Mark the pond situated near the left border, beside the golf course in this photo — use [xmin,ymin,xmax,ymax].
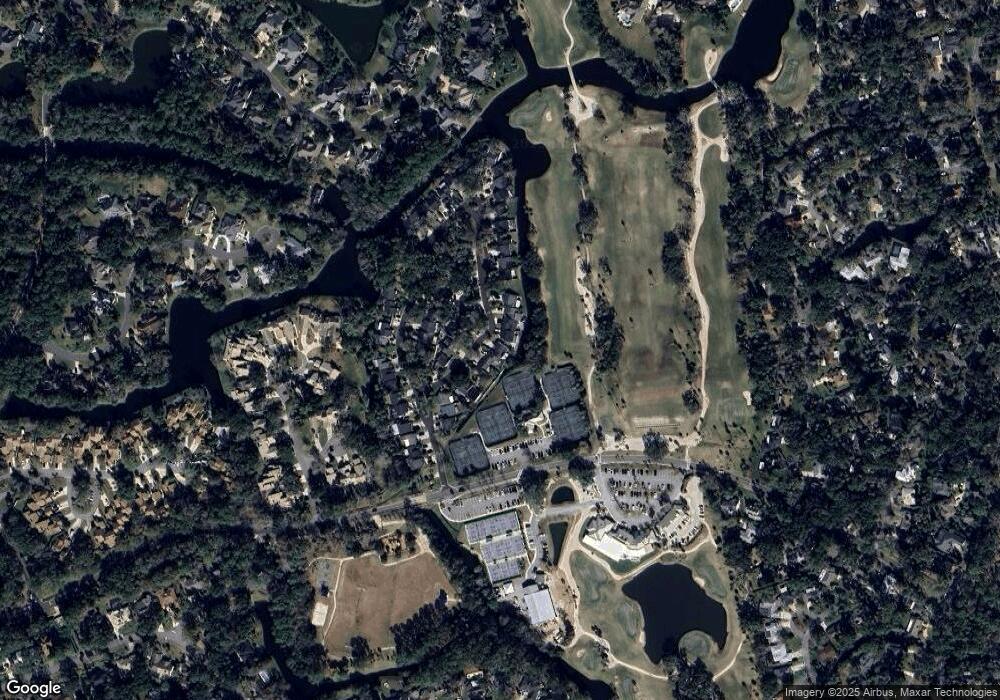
[0,238,377,420]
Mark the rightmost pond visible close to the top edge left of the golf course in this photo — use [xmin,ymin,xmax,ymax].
[304,0,407,68]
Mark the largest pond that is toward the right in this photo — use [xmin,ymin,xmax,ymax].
[623,564,727,664]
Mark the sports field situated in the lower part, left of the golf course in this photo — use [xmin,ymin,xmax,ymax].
[325,555,457,658]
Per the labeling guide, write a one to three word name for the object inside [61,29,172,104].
pond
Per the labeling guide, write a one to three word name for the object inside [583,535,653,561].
building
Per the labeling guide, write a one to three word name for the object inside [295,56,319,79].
house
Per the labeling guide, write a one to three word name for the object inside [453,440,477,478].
tennis court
